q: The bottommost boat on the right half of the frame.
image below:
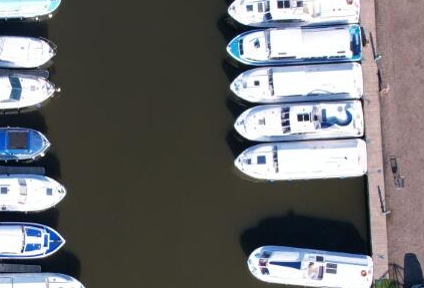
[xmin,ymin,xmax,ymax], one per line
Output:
[248,246,375,288]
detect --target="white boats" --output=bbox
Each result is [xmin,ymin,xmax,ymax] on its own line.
[227,25,363,67]
[0,174,66,214]
[228,0,360,28]
[235,141,367,182]
[0,223,65,259]
[0,74,61,112]
[248,246,375,288]
[0,274,84,288]
[230,63,362,104]
[0,36,59,69]
[235,104,365,143]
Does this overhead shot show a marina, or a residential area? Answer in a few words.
marina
